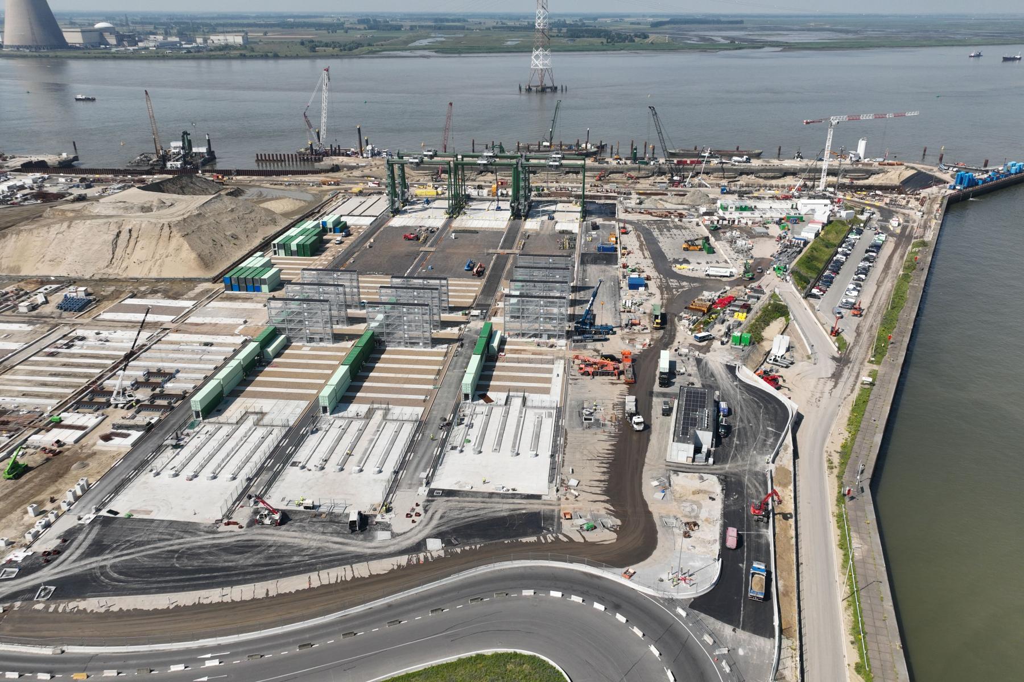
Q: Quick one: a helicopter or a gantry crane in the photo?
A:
gantry crane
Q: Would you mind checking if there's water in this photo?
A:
Yes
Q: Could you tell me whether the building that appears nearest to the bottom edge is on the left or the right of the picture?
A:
right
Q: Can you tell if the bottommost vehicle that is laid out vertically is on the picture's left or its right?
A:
right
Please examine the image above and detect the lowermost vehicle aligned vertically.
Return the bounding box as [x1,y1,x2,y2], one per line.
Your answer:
[749,557,769,599]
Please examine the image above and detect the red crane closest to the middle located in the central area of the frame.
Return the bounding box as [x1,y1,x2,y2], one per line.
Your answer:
[568,351,621,376]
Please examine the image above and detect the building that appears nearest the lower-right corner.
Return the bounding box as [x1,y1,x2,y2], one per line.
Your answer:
[665,386,722,460]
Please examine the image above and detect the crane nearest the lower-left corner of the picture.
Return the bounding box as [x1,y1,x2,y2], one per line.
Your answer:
[103,307,165,405]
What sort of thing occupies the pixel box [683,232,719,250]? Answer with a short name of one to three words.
work vehicle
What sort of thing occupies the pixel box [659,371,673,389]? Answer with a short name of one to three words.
vehicle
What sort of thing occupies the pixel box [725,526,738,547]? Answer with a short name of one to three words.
vehicle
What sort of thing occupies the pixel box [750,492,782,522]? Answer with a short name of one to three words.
work vehicle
